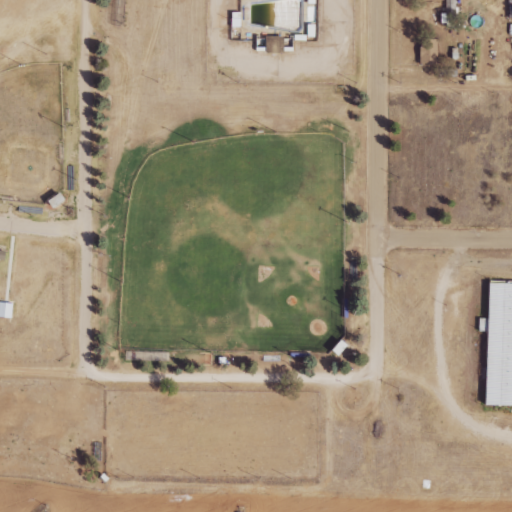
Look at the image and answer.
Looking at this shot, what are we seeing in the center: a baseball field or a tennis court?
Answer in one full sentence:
The feature located in the center is a baseball field.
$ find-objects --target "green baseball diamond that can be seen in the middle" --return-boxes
[120,132,345,350]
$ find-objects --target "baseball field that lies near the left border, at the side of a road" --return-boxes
[0,64,61,202]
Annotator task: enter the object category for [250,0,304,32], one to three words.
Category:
swimming pool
